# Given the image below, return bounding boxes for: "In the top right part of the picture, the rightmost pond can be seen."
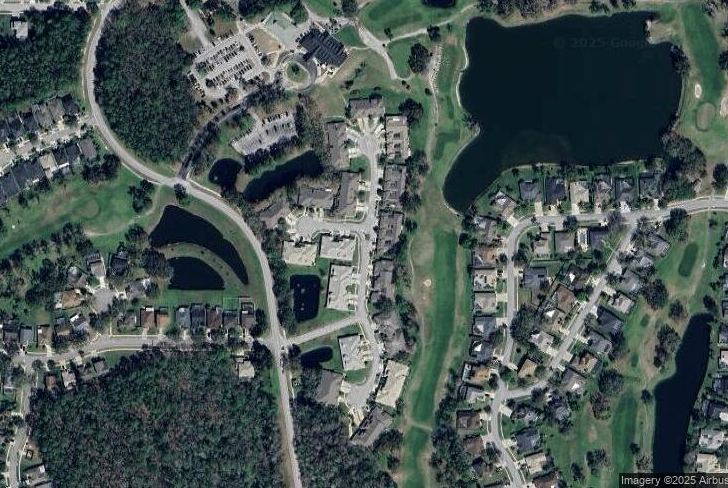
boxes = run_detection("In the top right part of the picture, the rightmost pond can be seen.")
[444,12,684,213]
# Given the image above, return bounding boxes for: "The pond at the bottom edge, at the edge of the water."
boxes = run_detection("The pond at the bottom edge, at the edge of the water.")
[653,313,712,488]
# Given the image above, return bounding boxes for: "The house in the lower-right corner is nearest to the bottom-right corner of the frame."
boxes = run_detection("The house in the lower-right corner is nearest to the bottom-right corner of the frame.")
[697,452,720,476]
